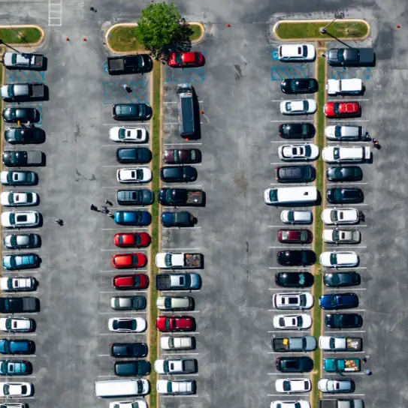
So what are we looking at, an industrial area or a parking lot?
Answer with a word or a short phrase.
parking lot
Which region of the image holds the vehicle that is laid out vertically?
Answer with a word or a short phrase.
top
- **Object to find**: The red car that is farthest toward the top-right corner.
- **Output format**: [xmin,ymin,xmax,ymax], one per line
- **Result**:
[323,100,361,118]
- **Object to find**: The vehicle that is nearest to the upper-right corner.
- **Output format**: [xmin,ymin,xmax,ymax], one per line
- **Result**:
[327,47,375,66]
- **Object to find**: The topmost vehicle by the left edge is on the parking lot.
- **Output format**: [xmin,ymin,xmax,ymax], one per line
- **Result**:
[3,51,45,69]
